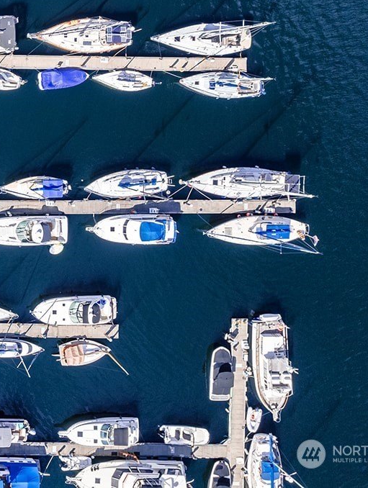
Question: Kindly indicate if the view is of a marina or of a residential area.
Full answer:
The picture captures a marina.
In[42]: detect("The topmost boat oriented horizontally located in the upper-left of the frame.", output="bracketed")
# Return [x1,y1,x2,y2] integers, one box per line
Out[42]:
[25,17,140,55]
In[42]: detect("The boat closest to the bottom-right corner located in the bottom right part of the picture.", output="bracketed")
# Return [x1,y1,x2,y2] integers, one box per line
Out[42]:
[243,431,305,488]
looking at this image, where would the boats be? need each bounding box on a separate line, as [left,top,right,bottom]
[200,214,325,256]
[48,245,64,254]
[152,13,280,57]
[208,346,233,400]
[160,422,209,448]
[165,71,276,100]
[0,18,21,53]
[53,335,131,376]
[0,417,34,449]
[83,214,179,244]
[248,405,262,432]
[206,461,230,488]
[64,450,192,488]
[91,71,163,91]
[243,431,305,488]
[0,67,28,89]
[0,211,71,247]
[169,164,321,205]
[83,168,177,202]
[0,336,46,378]
[0,453,53,488]
[25,17,140,55]
[0,178,73,200]
[62,455,89,470]
[59,415,144,448]
[35,69,96,93]
[246,315,307,426]
[28,295,119,328]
